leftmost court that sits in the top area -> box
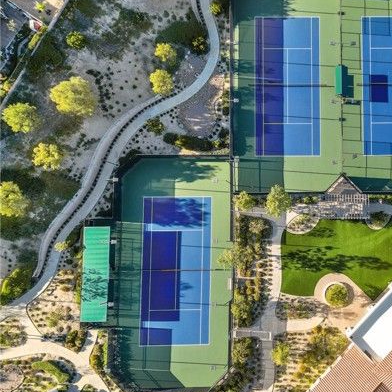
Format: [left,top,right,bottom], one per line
[234,0,343,191]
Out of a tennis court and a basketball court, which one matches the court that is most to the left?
tennis court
